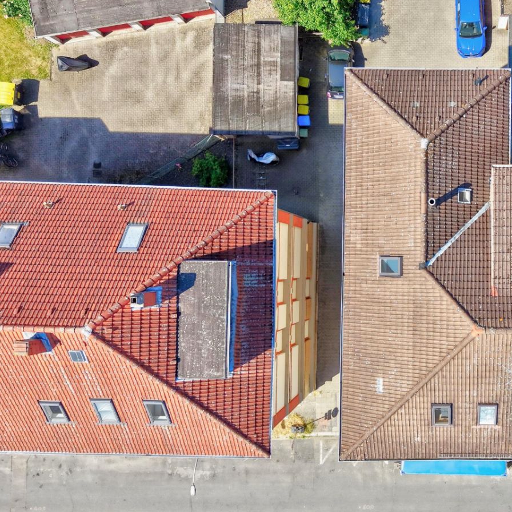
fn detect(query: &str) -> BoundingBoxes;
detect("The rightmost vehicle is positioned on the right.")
[453,0,490,57]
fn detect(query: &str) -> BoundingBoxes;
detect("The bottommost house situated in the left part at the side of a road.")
[0,178,318,461]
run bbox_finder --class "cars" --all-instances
[453,0,490,57]
[321,31,357,97]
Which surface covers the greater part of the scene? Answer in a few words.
buildings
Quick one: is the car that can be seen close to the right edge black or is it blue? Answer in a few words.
blue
